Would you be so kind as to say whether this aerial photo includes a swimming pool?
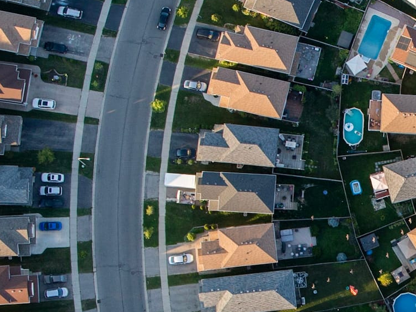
Yes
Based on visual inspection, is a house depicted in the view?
Yes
